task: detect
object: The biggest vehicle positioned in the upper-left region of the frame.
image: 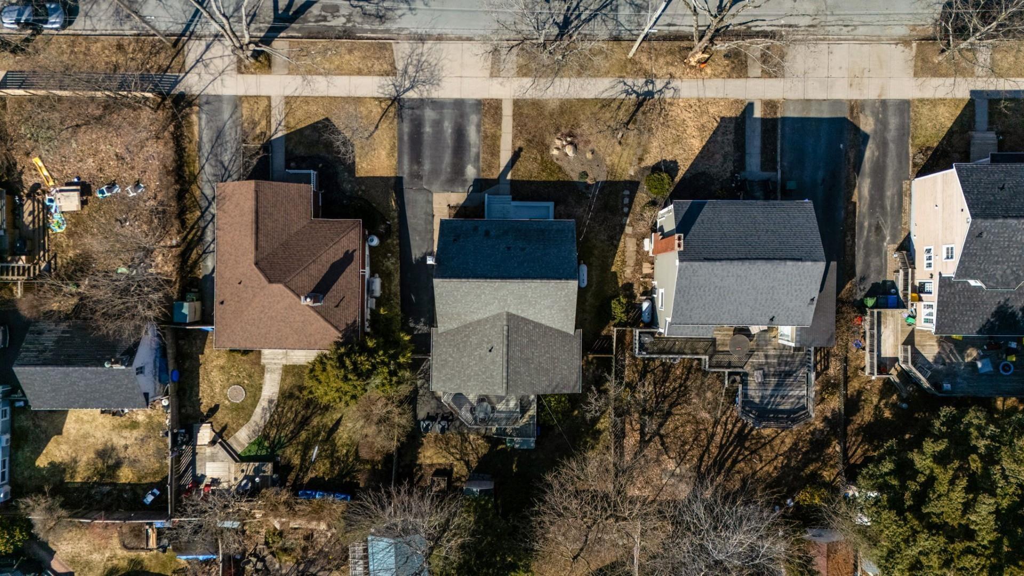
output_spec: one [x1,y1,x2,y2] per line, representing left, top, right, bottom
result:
[2,1,69,33]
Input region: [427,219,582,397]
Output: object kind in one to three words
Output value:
house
